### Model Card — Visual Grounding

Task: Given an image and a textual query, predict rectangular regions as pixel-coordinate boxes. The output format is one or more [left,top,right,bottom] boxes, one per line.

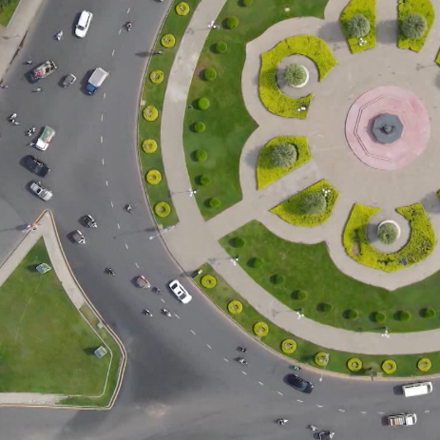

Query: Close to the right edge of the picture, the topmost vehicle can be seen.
[402,380,432,398]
